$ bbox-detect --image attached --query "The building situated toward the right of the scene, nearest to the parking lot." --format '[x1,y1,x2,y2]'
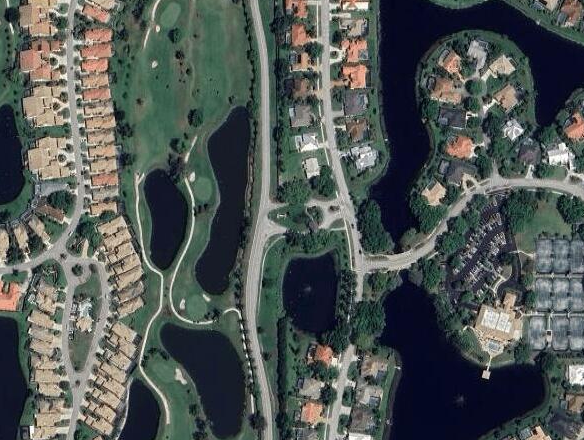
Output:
[473,299,521,338]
